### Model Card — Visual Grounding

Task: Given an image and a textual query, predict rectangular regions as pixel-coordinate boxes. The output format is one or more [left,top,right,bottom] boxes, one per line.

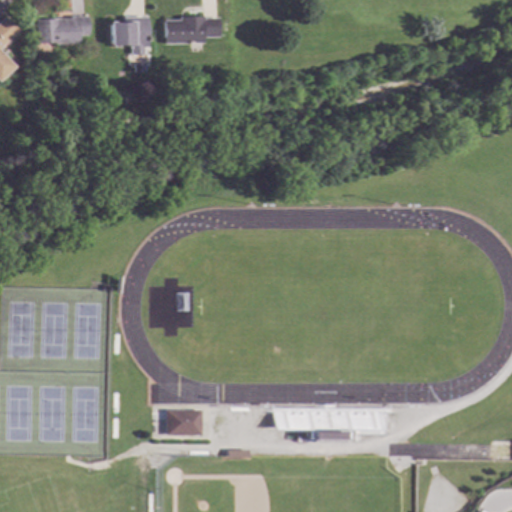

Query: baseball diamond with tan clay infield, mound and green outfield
[156,458,400,512]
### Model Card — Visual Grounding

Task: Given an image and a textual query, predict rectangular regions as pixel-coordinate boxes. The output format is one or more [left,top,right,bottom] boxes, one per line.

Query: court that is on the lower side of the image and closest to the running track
[72,302,102,360]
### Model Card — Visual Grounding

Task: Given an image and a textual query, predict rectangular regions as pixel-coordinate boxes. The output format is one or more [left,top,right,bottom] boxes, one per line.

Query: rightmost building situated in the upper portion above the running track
[154,16,224,51]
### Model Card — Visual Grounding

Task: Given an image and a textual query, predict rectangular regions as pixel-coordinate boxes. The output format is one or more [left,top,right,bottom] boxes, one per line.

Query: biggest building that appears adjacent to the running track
[166,410,203,435]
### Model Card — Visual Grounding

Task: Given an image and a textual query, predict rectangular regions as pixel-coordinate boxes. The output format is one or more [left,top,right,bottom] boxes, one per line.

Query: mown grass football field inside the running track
[141,228,505,384]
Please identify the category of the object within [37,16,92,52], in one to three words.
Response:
house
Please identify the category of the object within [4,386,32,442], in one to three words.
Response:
tennis court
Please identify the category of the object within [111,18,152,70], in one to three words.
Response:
house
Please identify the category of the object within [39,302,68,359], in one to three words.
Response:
tennis court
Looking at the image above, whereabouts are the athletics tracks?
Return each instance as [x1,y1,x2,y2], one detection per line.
[120,206,512,406]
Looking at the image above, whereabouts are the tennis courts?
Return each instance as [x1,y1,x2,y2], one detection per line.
[70,386,99,443]
[6,302,35,358]
[39,302,68,359]
[4,386,32,442]
[37,386,66,443]
[72,302,102,360]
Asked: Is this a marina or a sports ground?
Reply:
sports ground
